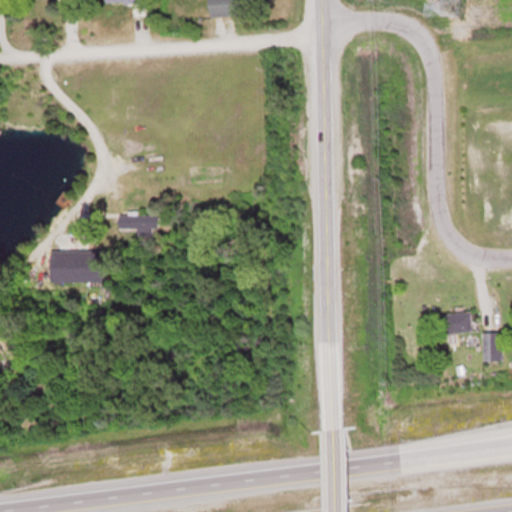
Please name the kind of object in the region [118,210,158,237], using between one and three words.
house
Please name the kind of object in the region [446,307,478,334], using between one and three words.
house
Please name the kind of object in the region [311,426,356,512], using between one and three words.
bridge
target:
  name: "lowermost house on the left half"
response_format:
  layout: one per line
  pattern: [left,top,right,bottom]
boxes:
[50,250,104,284]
